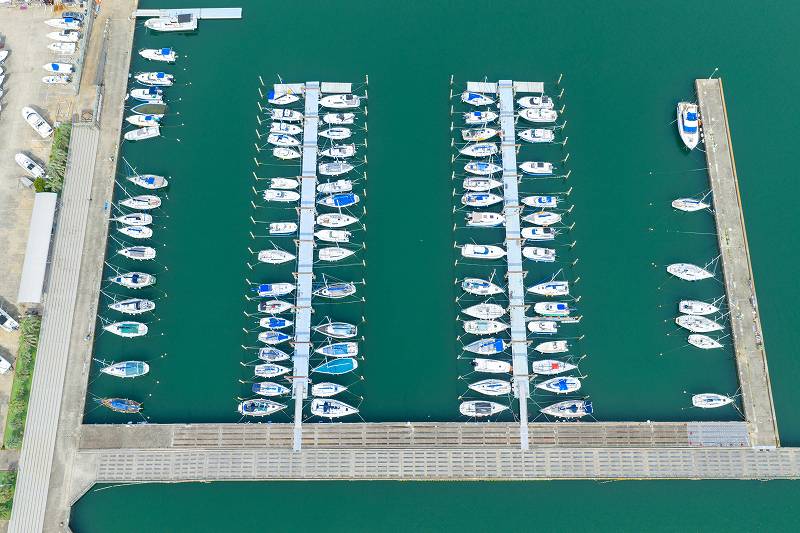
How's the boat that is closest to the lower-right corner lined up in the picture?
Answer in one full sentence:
In this picture, the boat that is closest to the lower-right corner is oriented from left to right.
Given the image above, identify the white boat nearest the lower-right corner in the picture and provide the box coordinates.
[684,389,744,409]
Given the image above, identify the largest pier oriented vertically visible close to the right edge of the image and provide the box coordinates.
[693,76,781,446]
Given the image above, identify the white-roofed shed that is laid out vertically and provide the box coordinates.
[16,192,62,305]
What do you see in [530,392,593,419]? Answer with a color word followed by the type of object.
white boat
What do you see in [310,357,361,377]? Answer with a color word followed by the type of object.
blue boat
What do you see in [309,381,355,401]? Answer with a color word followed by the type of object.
white boat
